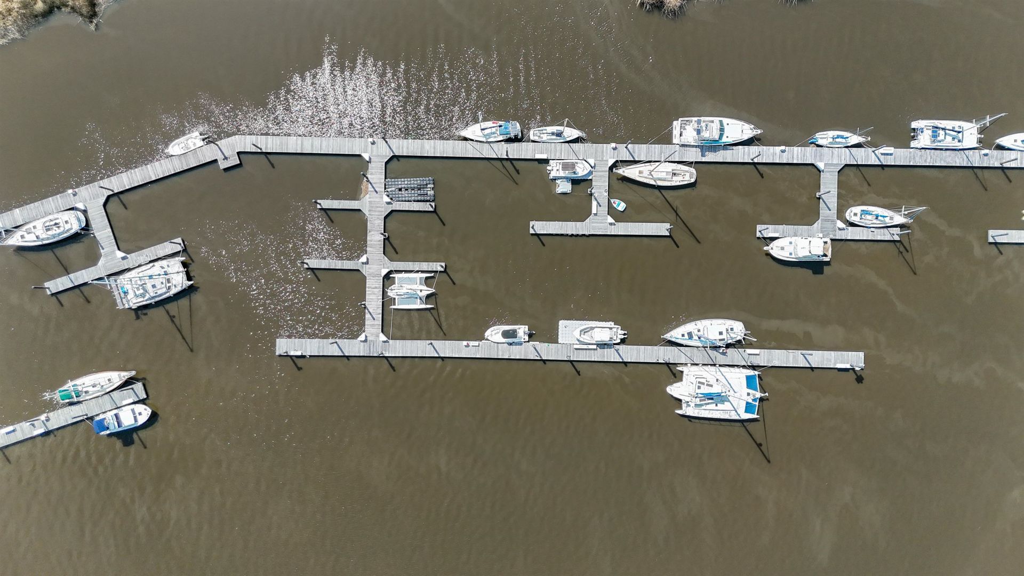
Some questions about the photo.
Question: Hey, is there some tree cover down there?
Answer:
No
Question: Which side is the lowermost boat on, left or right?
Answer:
left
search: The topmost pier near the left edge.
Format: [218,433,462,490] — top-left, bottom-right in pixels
[0,136,242,232]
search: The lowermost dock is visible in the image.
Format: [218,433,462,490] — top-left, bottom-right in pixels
[0,382,148,447]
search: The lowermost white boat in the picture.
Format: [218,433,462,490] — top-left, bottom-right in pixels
[93,405,153,435]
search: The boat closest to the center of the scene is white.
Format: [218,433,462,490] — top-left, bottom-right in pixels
[485,326,532,343]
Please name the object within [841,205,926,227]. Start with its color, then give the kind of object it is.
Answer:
white boat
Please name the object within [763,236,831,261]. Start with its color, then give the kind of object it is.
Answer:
white boat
